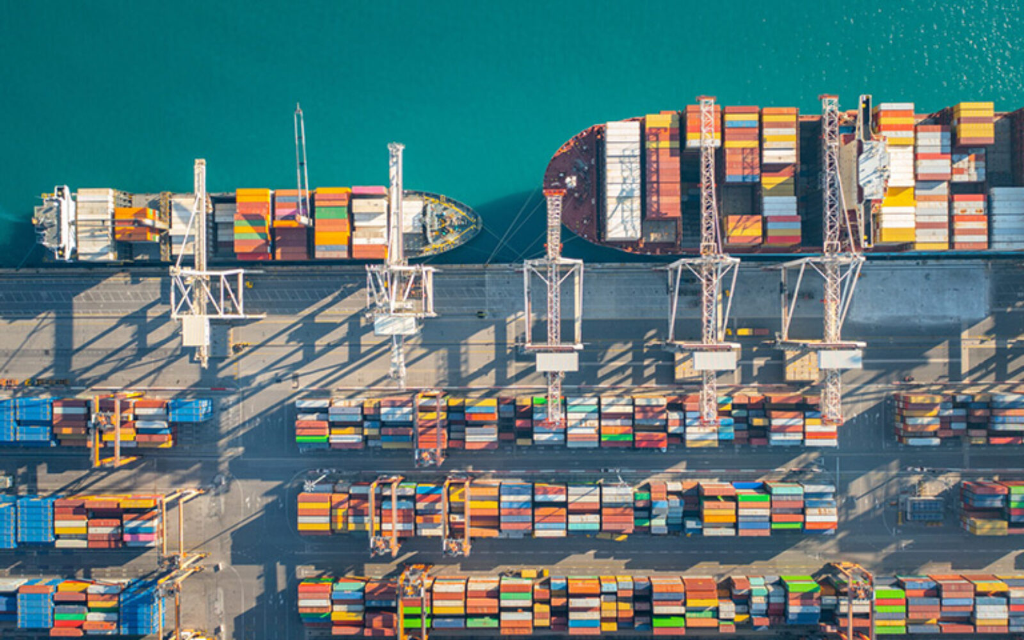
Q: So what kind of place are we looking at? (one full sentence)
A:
It's a port.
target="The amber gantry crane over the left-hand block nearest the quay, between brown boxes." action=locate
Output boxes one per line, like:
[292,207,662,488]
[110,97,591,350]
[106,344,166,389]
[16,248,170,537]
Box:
[91,390,146,466]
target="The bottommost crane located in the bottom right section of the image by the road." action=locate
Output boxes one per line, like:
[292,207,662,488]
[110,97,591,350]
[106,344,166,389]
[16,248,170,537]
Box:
[828,559,875,640]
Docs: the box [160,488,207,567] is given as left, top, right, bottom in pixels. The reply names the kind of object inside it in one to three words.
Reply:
container crane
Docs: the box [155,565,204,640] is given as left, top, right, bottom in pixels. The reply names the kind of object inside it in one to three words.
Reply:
container crane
